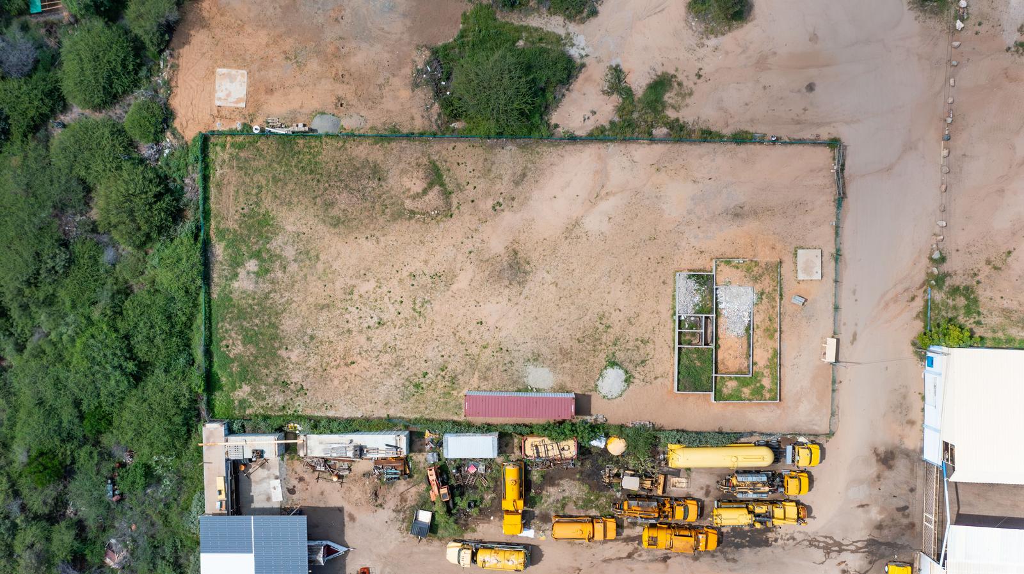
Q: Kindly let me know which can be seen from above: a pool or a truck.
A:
truck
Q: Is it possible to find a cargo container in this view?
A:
Yes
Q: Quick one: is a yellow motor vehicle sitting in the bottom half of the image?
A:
Yes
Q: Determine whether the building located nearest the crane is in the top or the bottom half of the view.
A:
bottom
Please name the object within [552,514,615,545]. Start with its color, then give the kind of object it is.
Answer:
orange truck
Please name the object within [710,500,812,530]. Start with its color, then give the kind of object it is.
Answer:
yellow truck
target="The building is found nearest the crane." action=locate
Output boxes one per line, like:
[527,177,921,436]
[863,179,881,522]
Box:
[201,506,317,574]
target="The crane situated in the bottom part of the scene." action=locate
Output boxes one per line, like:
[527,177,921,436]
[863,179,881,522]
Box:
[426,464,455,511]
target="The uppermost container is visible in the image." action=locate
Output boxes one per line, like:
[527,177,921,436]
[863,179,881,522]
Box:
[465,392,575,421]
